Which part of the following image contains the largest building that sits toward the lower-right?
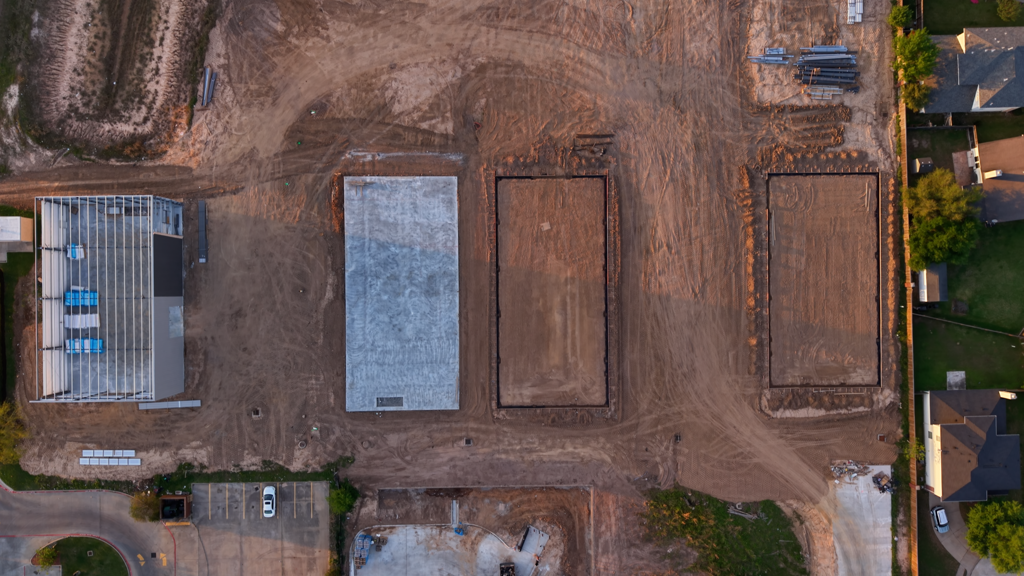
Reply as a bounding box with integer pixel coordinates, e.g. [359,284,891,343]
[922,389,1021,502]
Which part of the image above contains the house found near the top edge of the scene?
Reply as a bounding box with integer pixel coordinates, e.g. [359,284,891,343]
[918,27,1024,113]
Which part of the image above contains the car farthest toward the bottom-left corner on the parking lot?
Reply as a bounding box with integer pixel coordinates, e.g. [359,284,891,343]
[261,486,276,518]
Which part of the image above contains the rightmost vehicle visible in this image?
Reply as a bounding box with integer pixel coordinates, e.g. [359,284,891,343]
[931,502,950,531]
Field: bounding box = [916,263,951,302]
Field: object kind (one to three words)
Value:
shed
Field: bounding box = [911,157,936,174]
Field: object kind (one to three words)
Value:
shed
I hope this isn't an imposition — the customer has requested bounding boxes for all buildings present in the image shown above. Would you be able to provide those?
[916,263,951,302]
[28,194,185,403]
[0,216,33,242]
[918,27,1024,113]
[922,389,1021,502]
[959,135,1024,224]
[911,157,936,174]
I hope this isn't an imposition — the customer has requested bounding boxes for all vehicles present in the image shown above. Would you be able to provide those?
[931,502,950,531]
[261,486,276,518]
